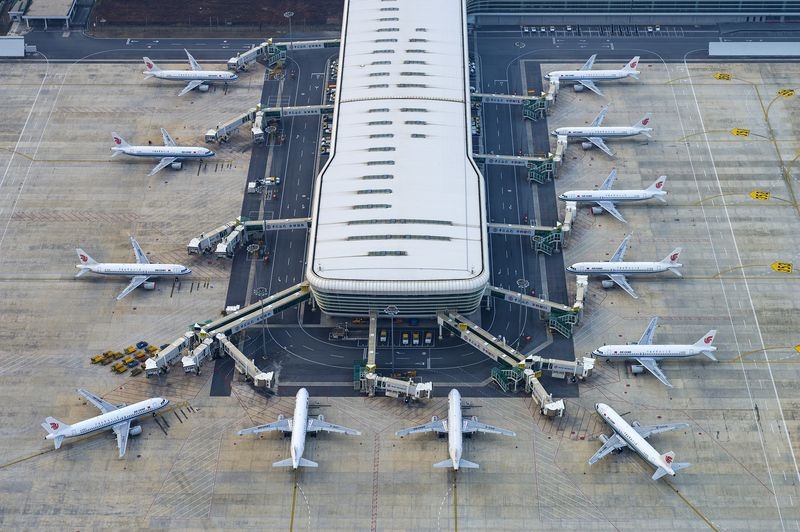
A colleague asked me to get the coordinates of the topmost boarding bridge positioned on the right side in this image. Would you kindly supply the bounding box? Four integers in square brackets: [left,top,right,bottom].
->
[545,76,559,117]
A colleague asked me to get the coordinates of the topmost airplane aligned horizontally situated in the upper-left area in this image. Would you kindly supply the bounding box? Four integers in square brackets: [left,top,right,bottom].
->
[142,54,238,97]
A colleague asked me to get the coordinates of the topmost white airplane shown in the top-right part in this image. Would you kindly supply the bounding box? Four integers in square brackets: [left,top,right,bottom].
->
[545,53,641,97]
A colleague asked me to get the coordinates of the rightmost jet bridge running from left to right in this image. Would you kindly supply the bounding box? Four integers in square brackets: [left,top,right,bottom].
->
[531,354,598,385]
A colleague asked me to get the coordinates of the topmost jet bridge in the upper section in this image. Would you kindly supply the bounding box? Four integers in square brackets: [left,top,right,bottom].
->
[227,43,273,73]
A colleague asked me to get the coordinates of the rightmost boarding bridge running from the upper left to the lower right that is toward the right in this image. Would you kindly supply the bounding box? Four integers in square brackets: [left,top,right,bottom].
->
[523,369,565,422]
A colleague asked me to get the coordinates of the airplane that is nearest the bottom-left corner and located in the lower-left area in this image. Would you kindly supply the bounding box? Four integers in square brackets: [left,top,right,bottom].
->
[42,388,168,460]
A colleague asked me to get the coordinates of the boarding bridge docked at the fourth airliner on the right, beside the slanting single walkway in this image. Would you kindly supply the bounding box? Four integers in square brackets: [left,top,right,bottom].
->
[570,272,588,327]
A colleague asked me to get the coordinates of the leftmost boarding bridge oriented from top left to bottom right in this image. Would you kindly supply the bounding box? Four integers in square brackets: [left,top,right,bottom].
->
[216,333,273,393]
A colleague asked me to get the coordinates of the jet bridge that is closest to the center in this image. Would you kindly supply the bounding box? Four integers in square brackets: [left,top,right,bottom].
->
[366,372,436,405]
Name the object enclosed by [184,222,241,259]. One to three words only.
jet bridge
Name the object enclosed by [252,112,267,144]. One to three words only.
jet bridge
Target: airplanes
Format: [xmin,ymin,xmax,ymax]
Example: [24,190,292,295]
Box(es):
[559,168,668,223]
[593,316,718,388]
[142,54,238,97]
[552,107,654,155]
[567,236,683,298]
[238,387,357,470]
[589,403,690,478]
[110,127,213,177]
[42,388,168,460]
[545,53,641,97]
[75,237,191,299]
[395,388,515,471]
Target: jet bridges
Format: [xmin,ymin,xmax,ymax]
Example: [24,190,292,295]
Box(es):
[252,112,267,144]
[178,337,215,377]
[552,134,568,179]
[561,202,577,249]
[212,227,245,262]
[184,222,241,259]
[141,331,196,378]
[570,272,588,327]
[523,369,565,422]
[531,354,598,385]
[366,372,436,405]
[227,43,273,73]
[545,76,559,117]
[202,106,261,145]
[216,333,273,393]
